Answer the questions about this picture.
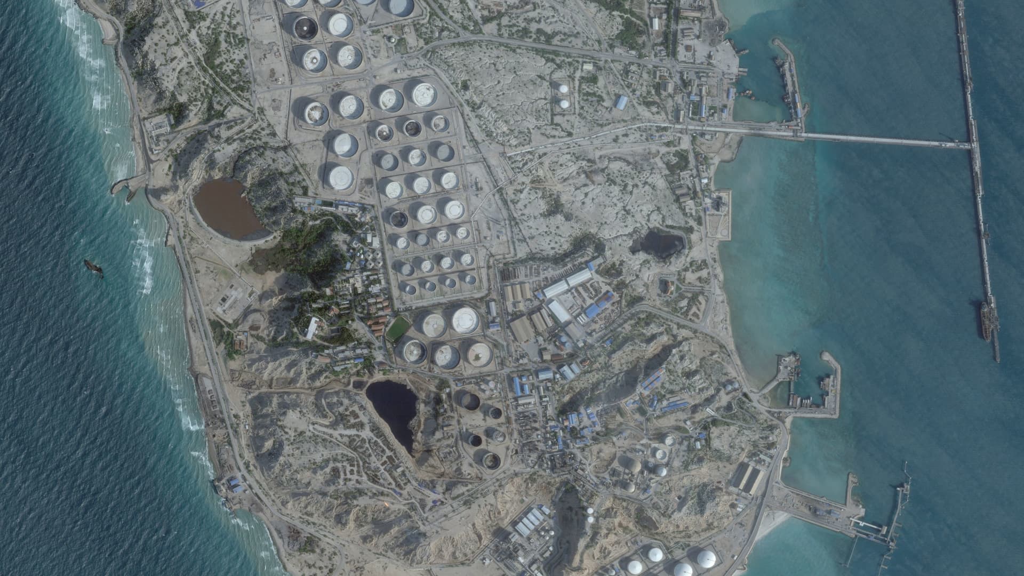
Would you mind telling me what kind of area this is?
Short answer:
port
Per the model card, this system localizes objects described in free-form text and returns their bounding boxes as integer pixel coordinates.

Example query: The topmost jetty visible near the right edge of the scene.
[956,0,1001,362]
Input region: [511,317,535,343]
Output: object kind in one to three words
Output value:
building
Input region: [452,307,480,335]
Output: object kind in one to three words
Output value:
storage tank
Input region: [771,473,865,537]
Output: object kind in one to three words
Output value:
pier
